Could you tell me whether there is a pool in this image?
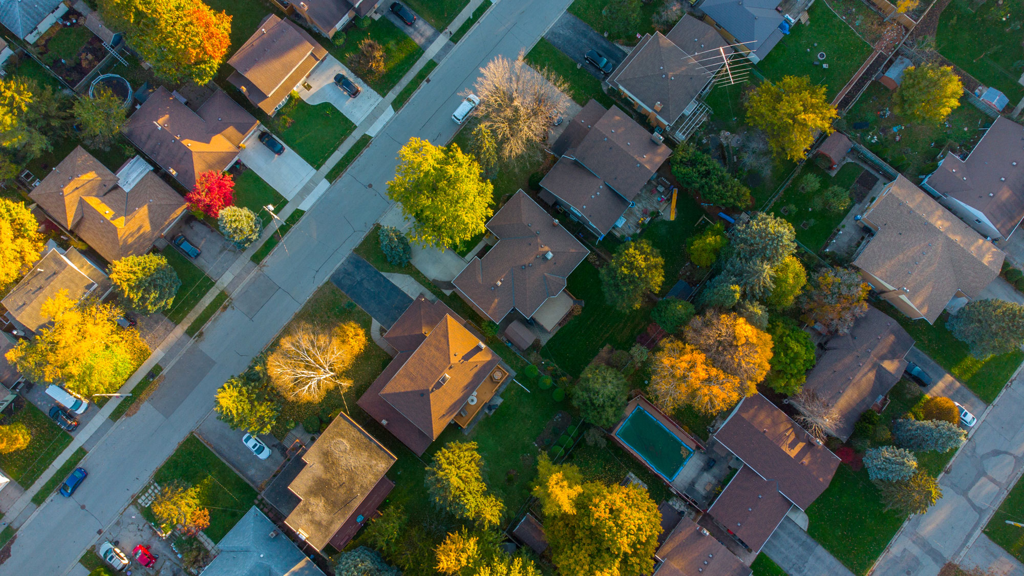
Yes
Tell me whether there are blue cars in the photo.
Yes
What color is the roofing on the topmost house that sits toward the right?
blue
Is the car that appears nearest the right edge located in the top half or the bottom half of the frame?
bottom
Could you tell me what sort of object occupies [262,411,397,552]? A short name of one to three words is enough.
house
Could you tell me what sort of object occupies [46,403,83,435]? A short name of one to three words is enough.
truck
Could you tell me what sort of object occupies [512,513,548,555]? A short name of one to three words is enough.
shed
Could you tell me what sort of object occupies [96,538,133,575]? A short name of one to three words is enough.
car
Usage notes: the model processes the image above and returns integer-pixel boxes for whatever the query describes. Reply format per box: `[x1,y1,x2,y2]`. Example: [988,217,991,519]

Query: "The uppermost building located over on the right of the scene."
[696,0,786,62]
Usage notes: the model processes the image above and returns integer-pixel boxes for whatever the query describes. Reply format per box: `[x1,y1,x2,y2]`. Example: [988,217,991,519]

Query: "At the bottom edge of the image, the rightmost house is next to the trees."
[705,391,842,554]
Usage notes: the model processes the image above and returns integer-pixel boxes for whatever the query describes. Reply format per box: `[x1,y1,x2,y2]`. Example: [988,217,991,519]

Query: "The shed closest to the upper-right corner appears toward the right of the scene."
[972,87,1010,115]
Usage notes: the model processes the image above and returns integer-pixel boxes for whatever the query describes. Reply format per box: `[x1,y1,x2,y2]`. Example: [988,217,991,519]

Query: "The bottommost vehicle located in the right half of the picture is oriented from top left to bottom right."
[954,400,980,431]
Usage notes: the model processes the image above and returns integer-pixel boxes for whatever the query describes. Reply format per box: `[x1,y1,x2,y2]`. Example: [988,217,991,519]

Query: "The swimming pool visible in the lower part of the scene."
[610,395,706,487]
